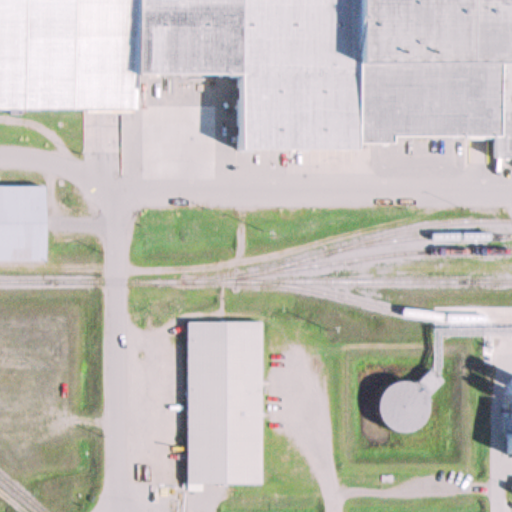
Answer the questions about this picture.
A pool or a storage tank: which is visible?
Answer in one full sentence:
The image shows a storage tank.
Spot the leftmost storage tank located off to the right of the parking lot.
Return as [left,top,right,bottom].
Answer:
[376,381,430,433]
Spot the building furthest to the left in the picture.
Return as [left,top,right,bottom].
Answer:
[0,185,47,262]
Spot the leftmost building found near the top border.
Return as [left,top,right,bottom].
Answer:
[0,0,139,114]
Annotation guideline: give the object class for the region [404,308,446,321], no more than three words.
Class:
rail car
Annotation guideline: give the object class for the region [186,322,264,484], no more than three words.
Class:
shed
